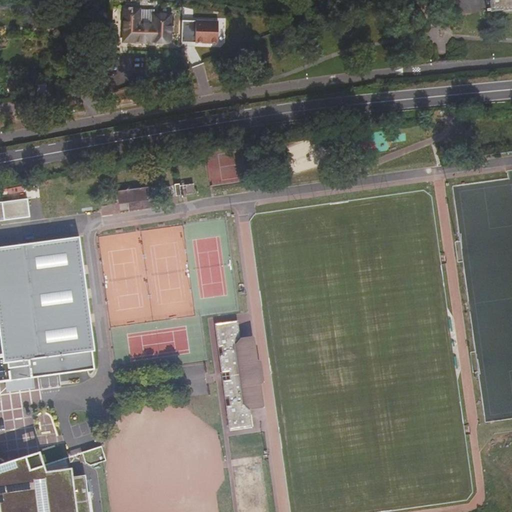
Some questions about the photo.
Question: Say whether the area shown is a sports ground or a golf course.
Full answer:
The area seen from above is a sports ground.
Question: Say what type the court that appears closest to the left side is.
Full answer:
The court that appears closest to the left side is a tennis court.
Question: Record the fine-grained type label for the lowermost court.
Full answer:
The lowermost court can be classified as a tennis court.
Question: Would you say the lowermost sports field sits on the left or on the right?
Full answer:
The lowermost sports field sits on the left side.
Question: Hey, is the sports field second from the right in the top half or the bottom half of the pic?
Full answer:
Seen from above, the sports field second from the right lies in the bottom half of the view.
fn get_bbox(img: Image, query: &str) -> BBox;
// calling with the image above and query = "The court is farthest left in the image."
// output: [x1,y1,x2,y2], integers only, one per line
[100,232,152,326]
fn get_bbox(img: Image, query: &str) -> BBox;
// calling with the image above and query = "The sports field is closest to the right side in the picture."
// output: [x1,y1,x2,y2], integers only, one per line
[452,170,512,424]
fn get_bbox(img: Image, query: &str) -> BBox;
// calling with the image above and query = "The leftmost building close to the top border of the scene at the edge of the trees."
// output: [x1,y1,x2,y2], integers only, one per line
[122,5,172,44]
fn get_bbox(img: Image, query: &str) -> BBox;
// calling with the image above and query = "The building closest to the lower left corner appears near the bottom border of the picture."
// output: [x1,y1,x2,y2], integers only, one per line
[0,450,96,512]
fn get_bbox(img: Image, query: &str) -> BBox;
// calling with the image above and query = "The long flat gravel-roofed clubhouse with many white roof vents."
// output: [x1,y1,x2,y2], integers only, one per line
[215,320,254,431]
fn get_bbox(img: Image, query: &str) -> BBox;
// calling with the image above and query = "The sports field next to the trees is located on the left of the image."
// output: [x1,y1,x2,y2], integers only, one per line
[106,404,224,512]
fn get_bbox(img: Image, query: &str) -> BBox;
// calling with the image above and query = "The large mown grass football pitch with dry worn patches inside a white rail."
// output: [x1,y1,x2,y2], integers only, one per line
[252,191,471,512]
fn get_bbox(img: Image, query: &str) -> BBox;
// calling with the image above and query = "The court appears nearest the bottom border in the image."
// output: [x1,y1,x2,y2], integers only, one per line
[111,315,208,371]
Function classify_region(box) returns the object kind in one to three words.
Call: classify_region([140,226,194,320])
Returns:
tennis court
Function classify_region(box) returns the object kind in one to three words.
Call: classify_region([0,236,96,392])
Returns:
building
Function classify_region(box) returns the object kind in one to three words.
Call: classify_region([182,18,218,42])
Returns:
house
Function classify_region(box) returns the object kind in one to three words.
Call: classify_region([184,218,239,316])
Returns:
tennis court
